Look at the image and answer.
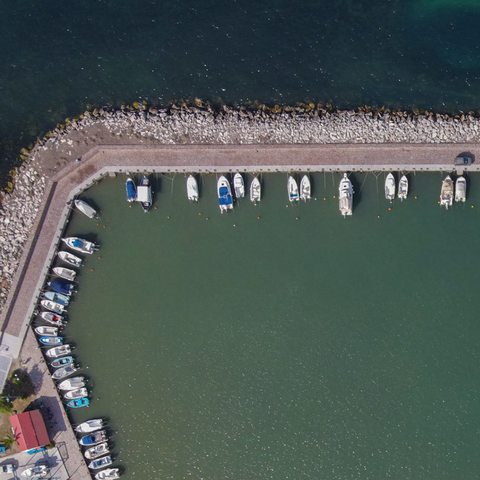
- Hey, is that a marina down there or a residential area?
marina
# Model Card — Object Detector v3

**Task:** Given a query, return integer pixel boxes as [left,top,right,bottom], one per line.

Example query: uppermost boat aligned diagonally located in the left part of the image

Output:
[74,200,96,219]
